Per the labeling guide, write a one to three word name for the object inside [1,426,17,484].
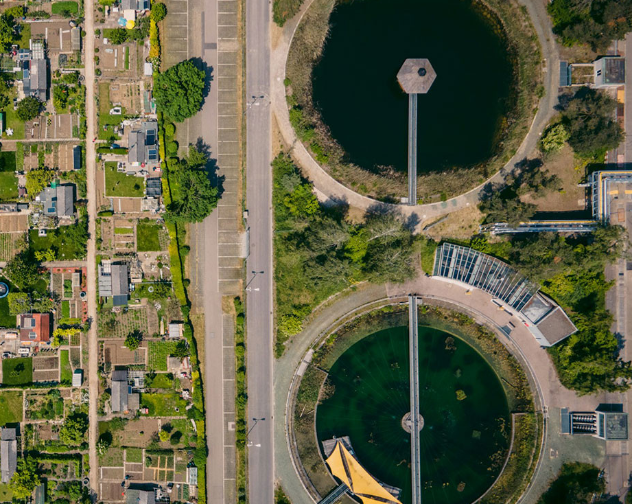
shed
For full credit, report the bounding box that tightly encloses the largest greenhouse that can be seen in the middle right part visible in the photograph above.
[433,244,547,323]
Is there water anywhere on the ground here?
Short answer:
Yes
